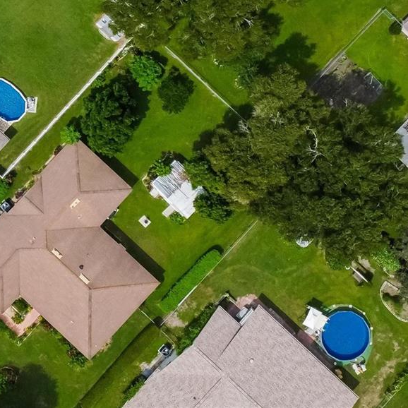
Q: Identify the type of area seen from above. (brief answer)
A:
residential area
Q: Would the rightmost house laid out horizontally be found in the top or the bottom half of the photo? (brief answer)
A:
bottom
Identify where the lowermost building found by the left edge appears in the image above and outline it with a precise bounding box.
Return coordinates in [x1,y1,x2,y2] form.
[0,140,160,359]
